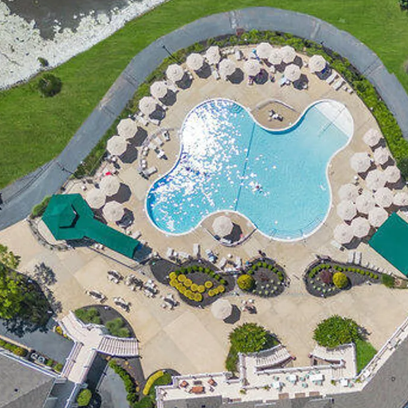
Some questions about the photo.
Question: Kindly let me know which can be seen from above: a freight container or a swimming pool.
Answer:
swimming pool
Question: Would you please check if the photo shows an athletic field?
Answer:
No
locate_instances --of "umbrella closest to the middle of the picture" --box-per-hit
[212,216,232,237]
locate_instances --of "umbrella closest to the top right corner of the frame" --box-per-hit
[305,51,329,75]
